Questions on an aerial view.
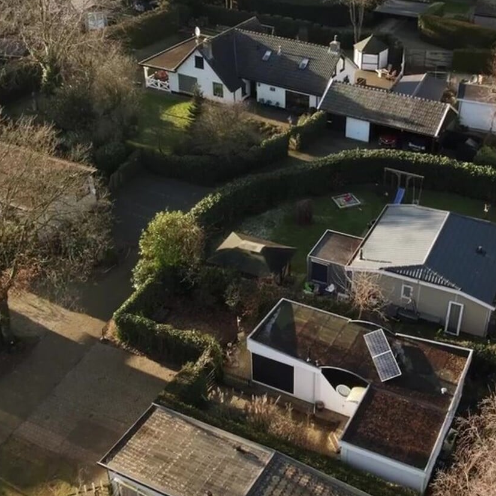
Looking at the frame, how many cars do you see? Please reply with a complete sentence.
The photo contains 2 cars.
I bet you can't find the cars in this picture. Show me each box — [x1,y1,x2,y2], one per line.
[373,125,406,147]
[405,129,443,155]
